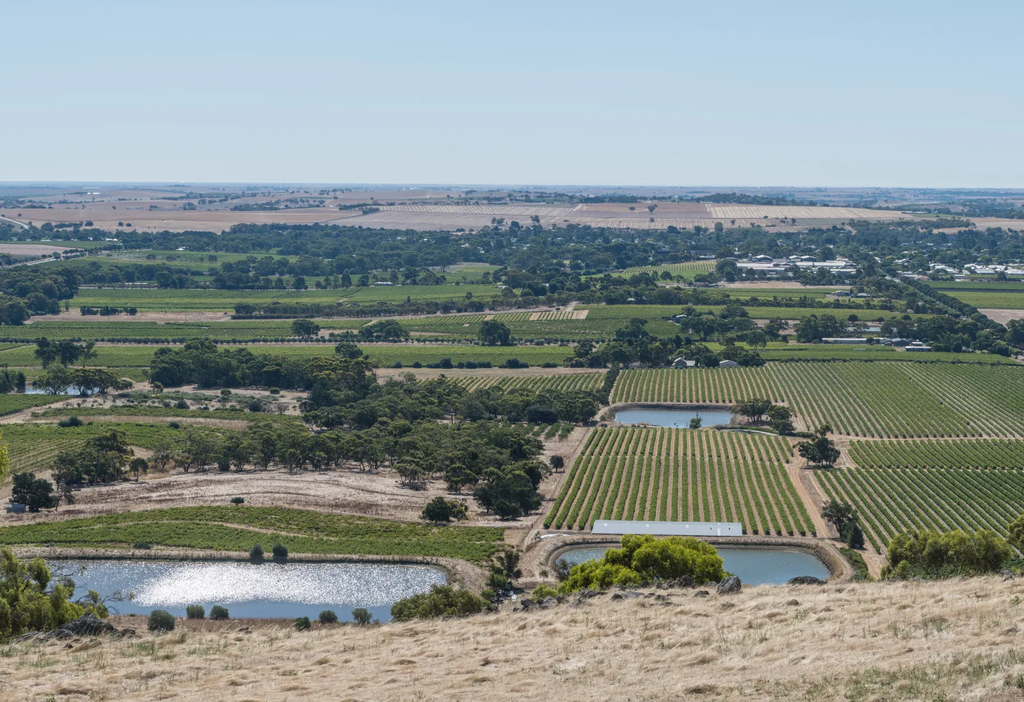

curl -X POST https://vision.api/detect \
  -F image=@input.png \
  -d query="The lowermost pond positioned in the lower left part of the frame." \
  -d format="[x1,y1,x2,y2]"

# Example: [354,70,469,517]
[45,561,452,622]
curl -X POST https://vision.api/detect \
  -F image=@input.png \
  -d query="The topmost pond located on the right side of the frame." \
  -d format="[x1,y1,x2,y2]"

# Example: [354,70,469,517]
[612,409,736,427]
